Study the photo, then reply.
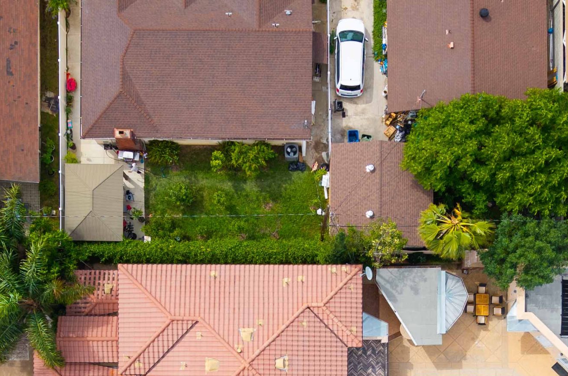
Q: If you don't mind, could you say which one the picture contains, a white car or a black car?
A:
white car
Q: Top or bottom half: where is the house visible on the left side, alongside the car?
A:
top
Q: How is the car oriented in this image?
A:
from top to bottom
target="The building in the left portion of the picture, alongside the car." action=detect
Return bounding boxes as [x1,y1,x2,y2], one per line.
[78,0,327,163]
